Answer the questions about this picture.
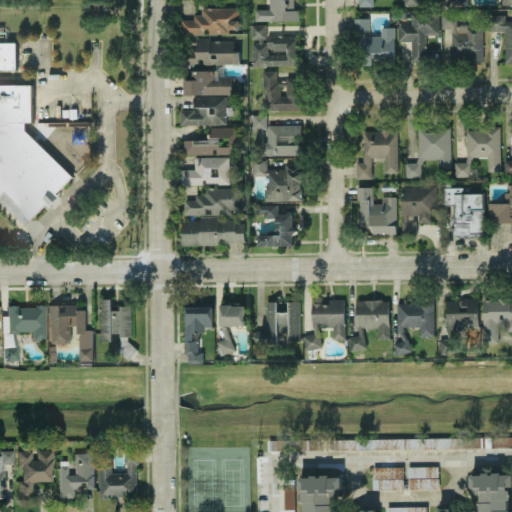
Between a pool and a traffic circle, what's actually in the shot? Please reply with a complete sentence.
It is a pool that can be seen here.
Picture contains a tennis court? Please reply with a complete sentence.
Yes, a tennis court can be made out from above.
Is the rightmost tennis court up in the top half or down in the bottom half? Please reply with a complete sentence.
The rightmost tennis court sits in the bottom half of the picture.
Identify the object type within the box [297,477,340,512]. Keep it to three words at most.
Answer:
building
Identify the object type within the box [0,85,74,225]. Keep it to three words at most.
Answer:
building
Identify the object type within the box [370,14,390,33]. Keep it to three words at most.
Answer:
swimming pool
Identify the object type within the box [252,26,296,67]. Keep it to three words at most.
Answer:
house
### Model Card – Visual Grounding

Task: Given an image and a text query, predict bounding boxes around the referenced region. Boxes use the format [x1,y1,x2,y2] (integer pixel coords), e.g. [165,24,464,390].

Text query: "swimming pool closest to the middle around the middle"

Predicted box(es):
[254,218,275,234]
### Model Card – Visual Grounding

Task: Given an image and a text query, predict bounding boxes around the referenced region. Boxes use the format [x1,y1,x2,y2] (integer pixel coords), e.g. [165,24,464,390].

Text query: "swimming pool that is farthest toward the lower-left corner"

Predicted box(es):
[114,454,126,470]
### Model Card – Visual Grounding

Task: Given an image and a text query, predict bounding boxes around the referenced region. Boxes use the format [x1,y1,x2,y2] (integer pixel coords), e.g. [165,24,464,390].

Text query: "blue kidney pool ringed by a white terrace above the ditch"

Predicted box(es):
[319,336,348,360]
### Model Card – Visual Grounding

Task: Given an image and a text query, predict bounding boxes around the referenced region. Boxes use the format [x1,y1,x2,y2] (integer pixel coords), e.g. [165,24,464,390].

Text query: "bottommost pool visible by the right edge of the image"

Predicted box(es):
[489,184,509,203]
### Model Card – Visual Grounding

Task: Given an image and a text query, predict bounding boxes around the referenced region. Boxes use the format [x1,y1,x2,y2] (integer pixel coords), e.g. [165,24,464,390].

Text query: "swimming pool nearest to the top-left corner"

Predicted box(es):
[217,64,247,82]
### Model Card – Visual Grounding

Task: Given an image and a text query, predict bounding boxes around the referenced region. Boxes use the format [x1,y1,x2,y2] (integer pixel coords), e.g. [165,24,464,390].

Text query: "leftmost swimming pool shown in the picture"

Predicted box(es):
[18,335,48,362]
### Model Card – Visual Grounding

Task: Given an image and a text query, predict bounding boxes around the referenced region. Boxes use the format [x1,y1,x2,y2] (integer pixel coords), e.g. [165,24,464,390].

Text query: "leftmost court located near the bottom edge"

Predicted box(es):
[188,448,220,512]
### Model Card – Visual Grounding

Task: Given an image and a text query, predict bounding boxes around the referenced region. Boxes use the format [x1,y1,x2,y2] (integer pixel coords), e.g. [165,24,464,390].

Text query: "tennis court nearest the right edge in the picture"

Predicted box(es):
[220,448,250,512]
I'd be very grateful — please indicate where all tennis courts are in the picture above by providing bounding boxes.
[220,448,250,512]
[188,448,220,512]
